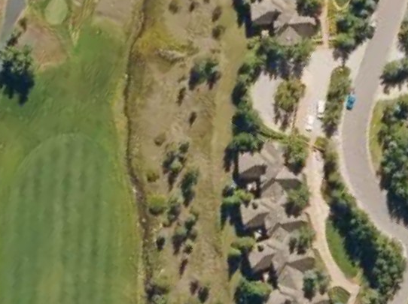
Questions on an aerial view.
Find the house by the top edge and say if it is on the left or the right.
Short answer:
right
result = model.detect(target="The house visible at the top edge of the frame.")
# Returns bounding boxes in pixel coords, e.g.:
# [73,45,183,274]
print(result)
[250,0,320,43]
